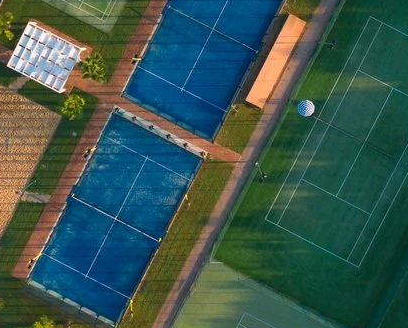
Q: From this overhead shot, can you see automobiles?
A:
No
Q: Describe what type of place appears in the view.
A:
sports ground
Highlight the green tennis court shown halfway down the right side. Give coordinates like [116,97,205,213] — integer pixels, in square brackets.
[213,0,408,328]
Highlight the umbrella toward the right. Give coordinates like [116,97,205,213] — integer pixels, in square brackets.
[297,99,315,117]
